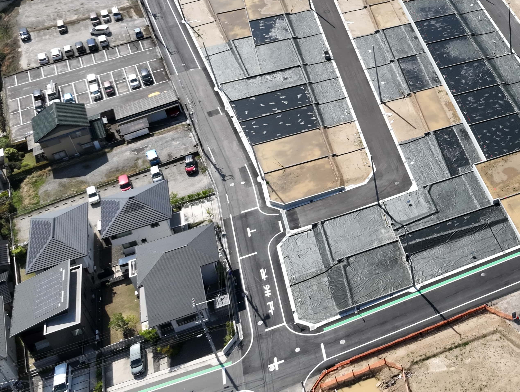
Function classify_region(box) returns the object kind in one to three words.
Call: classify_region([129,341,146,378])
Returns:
car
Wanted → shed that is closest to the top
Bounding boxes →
[111,86,179,123]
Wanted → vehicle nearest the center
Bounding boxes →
[184,155,198,173]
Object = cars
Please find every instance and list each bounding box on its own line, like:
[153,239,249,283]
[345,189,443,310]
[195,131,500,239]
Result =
[98,34,109,46]
[57,19,68,32]
[86,37,97,51]
[33,87,45,101]
[89,81,102,100]
[100,8,111,21]
[133,25,143,38]
[85,184,101,203]
[91,12,100,24]
[36,51,51,67]
[128,72,141,90]
[63,90,75,103]
[119,251,130,274]
[89,24,113,35]
[139,66,153,85]
[19,26,31,41]
[63,43,74,56]
[111,3,122,19]
[51,46,61,59]
[34,98,45,114]
[75,40,85,54]
[44,81,59,100]
[88,72,98,83]
[129,341,146,378]
[103,79,114,95]
[118,173,132,192]
[149,164,166,182]
[146,149,160,166]
[53,364,71,392]
[184,155,198,173]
